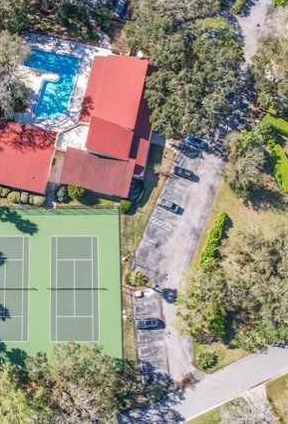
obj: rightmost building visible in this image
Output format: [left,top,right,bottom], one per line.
[61,56,161,198]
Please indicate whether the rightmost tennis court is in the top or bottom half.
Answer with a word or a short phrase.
bottom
